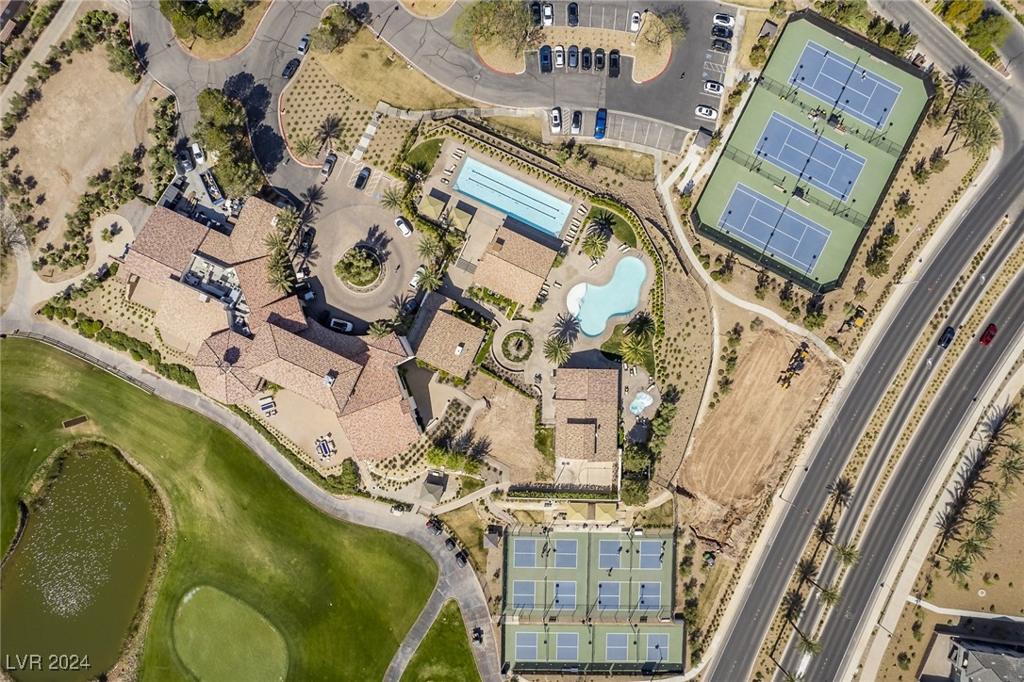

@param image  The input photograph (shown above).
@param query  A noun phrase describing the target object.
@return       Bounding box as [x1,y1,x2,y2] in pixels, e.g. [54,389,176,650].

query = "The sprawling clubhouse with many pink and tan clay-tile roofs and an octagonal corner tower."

[124,197,424,460]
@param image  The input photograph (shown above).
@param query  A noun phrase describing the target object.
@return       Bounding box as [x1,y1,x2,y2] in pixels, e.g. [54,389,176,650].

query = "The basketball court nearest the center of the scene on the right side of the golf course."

[555,458,613,491]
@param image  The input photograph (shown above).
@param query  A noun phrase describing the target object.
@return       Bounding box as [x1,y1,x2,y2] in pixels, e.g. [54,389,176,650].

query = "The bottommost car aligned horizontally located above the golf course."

[330,319,353,332]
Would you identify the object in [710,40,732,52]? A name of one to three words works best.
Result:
vehicle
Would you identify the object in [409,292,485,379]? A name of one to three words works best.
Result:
building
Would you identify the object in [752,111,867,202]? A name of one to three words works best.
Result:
tennis court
